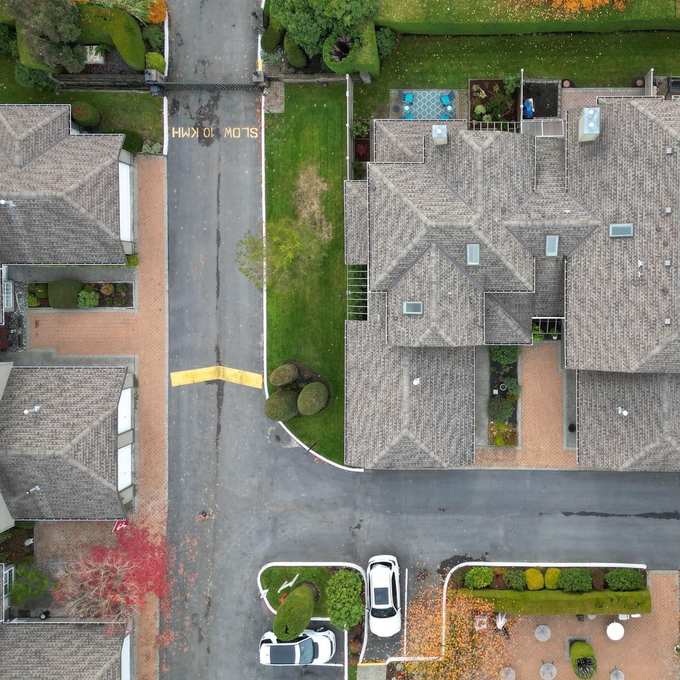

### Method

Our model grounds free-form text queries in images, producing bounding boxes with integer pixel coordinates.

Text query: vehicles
[261,624,337,671]
[364,555,403,635]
